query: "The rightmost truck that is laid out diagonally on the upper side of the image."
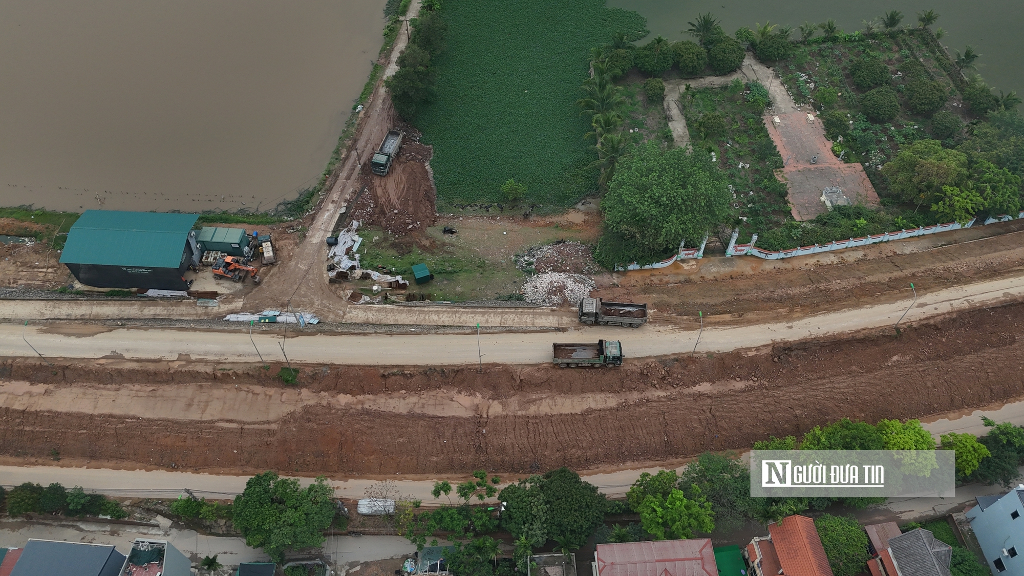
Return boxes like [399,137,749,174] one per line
[367,128,404,174]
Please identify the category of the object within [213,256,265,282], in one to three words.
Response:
work vehicle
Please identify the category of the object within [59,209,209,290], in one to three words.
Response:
building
